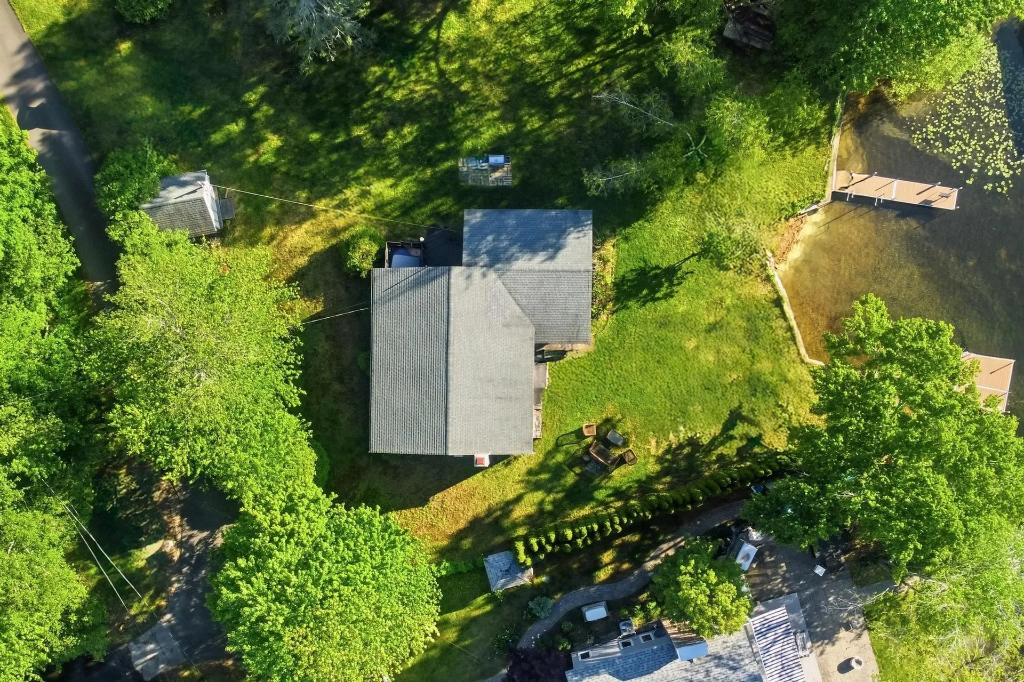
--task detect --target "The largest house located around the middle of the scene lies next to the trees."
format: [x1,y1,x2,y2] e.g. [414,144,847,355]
[370,208,595,471]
